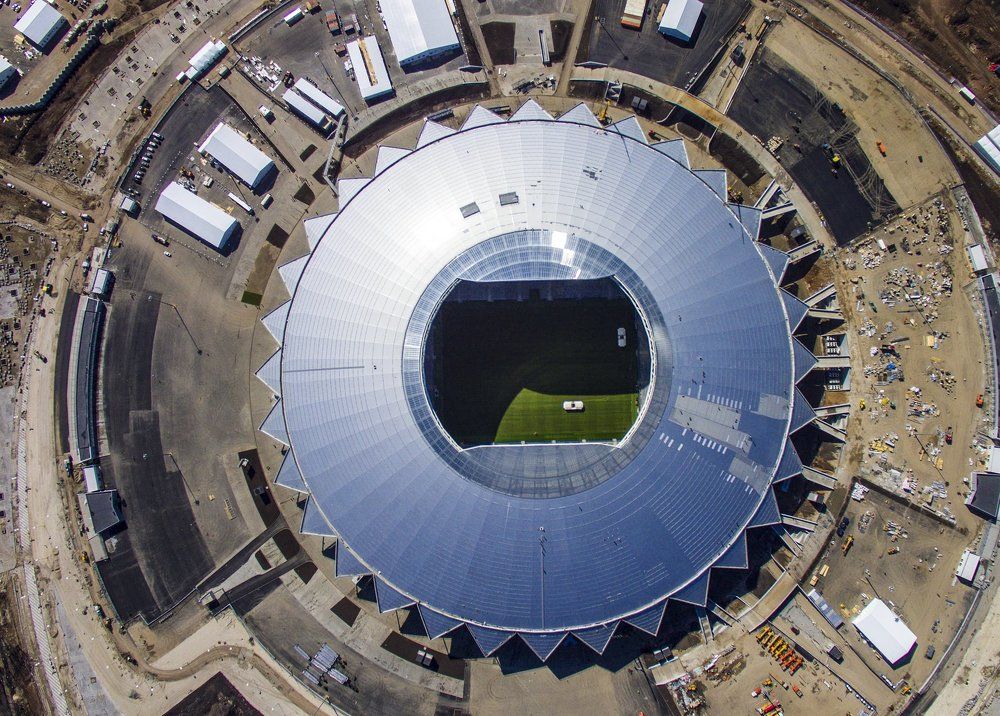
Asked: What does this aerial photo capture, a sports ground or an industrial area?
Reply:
sports ground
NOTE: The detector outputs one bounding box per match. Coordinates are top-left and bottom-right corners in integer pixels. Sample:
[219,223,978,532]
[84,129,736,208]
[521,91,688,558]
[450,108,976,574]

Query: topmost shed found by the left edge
[15,0,67,49]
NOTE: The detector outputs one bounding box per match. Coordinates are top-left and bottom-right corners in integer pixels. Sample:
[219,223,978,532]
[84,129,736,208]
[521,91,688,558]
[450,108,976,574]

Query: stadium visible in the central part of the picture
[255,98,819,661]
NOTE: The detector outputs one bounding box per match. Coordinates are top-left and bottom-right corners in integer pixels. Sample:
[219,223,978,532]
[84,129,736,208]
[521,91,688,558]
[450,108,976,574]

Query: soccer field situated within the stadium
[428,294,643,446]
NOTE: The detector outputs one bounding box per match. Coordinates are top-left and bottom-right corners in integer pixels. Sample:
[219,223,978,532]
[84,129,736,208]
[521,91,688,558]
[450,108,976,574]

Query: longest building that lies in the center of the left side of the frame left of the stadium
[75,300,104,460]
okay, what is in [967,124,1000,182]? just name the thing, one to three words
shed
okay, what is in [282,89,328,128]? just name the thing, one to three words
building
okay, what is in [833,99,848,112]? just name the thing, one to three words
vehicle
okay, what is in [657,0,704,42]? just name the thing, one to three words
shed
